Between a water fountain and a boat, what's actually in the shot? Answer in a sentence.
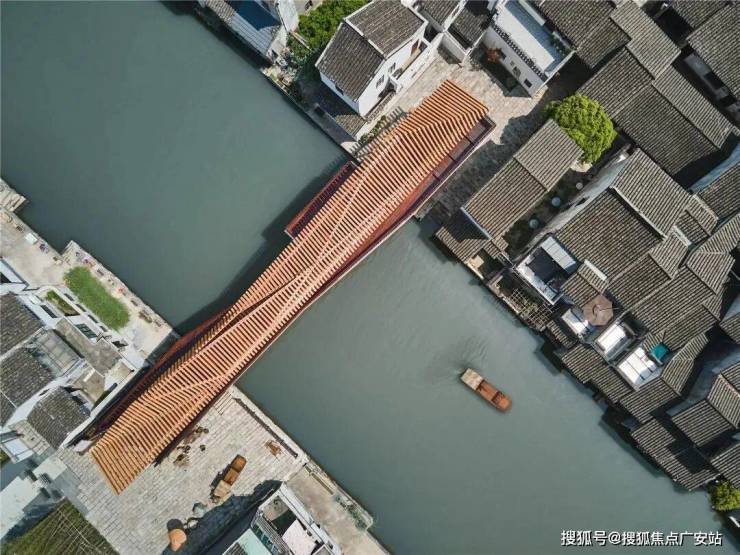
Of the two, only a boat appears.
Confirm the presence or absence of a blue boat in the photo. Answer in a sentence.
No, no blue boat is visible in the view.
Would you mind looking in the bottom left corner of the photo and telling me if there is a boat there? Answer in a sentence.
No, no boat is visible in the bottom left corner of the photo.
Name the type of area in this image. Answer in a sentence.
It's a residential area.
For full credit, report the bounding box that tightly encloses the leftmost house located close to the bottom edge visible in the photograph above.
[0,464,60,542]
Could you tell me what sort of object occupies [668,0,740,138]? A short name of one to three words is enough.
house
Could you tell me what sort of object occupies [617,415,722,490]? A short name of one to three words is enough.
house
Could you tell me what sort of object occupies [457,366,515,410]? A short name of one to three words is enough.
boat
